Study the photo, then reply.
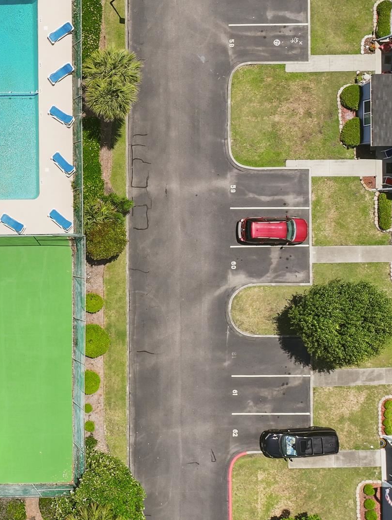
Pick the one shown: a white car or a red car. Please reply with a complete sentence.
Looking from above, you can make out a red car.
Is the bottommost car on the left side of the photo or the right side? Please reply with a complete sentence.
The bottommost car is on the right side of the image.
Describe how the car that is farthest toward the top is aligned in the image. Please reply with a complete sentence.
In this picture, the car that is farthest toward the top lies horizontally.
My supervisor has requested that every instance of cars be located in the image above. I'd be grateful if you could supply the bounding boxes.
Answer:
[260,426,337,459]
[236,215,308,246]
